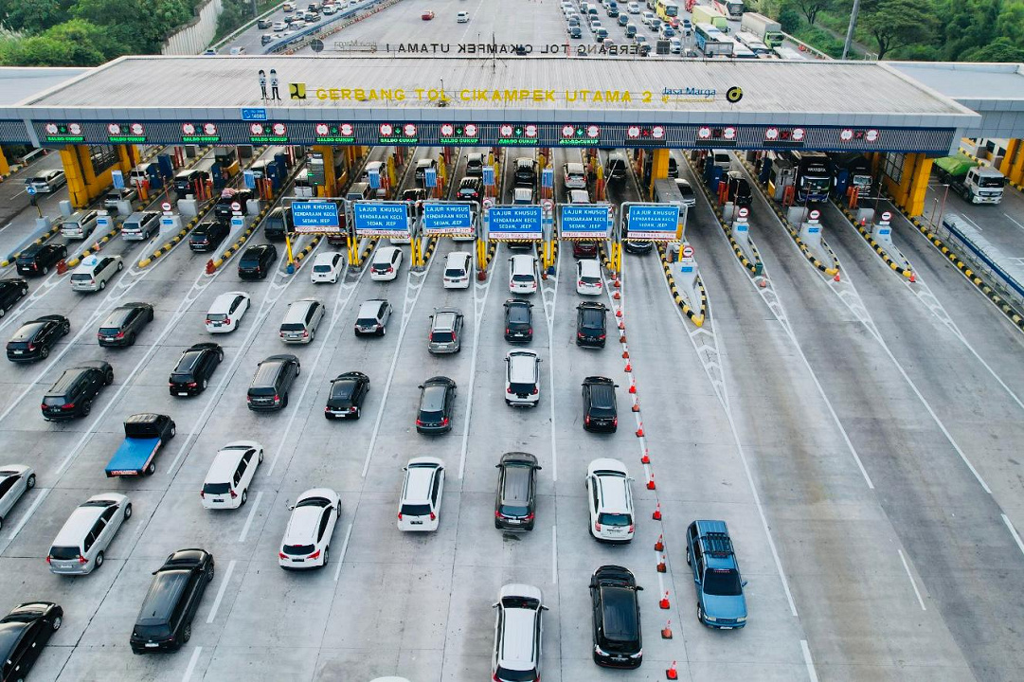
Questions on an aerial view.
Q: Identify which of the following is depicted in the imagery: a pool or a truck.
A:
truck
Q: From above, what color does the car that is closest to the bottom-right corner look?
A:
blue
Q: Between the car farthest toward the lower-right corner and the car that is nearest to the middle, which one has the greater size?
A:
the car farthest toward the lower-right corner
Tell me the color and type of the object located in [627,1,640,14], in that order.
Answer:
white vehicle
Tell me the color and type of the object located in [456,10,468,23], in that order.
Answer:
white vehicle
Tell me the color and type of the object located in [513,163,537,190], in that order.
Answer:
black car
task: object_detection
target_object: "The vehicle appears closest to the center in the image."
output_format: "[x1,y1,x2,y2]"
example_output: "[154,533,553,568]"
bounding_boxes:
[501,306,535,350]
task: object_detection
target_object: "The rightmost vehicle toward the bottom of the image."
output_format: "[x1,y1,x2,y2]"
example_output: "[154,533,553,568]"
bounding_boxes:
[684,521,751,637]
